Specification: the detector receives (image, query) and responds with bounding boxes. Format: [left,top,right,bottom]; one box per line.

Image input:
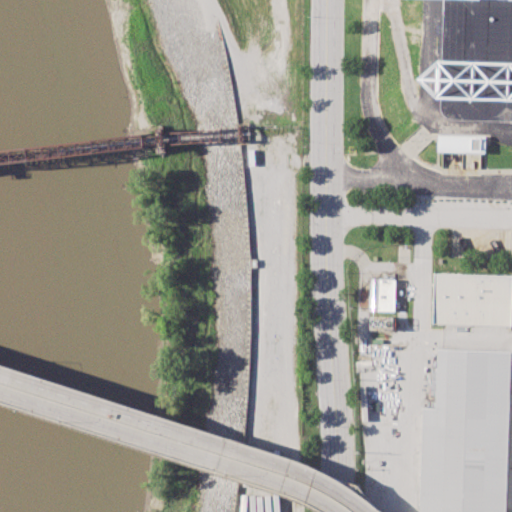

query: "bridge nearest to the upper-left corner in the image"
[0,124,248,166]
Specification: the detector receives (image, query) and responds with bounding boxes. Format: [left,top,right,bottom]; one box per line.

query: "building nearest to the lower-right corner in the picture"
[420,350,510,512]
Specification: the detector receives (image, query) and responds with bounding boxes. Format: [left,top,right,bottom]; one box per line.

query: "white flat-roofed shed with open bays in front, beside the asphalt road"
[438,135,487,168]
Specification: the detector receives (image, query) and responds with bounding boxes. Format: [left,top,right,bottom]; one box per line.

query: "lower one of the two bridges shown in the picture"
[0,365,378,512]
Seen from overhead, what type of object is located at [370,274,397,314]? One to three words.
house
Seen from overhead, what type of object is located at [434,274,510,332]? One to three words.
building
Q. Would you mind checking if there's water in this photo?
Yes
